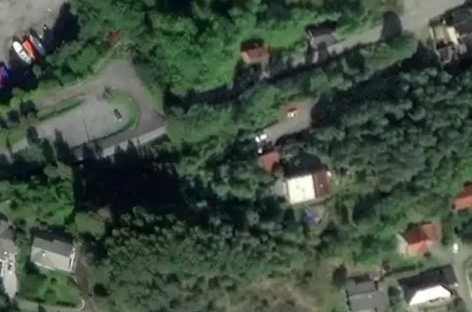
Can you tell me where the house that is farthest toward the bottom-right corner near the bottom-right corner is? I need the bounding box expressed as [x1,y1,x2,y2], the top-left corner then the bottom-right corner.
[401,265,456,312]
